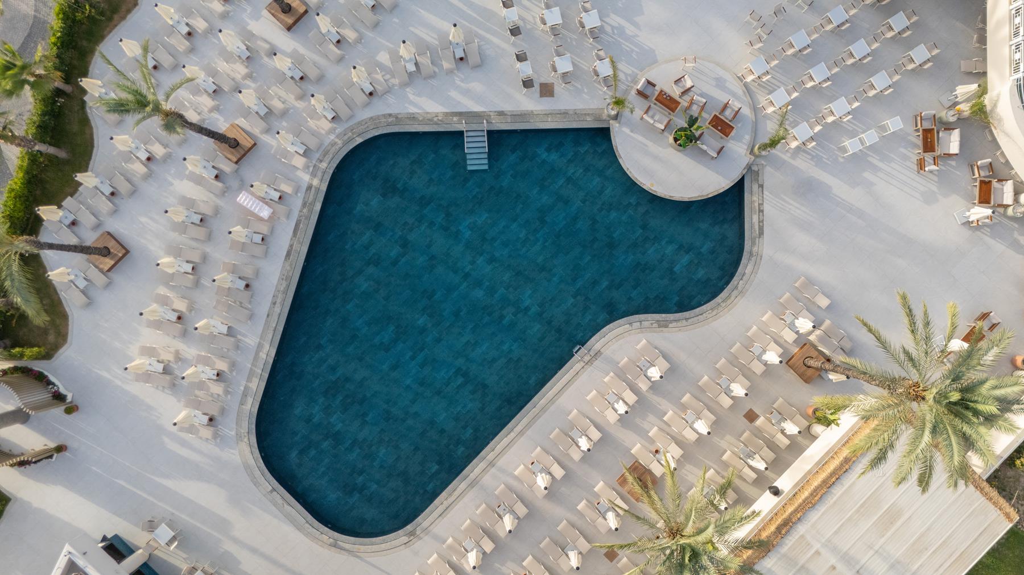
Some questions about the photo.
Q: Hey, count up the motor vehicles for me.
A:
0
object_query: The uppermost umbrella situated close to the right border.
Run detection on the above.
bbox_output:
[931,83,981,111]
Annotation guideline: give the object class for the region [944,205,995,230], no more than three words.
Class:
umbrella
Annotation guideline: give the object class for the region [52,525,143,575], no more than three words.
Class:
shed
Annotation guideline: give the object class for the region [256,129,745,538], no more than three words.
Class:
swimming pool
